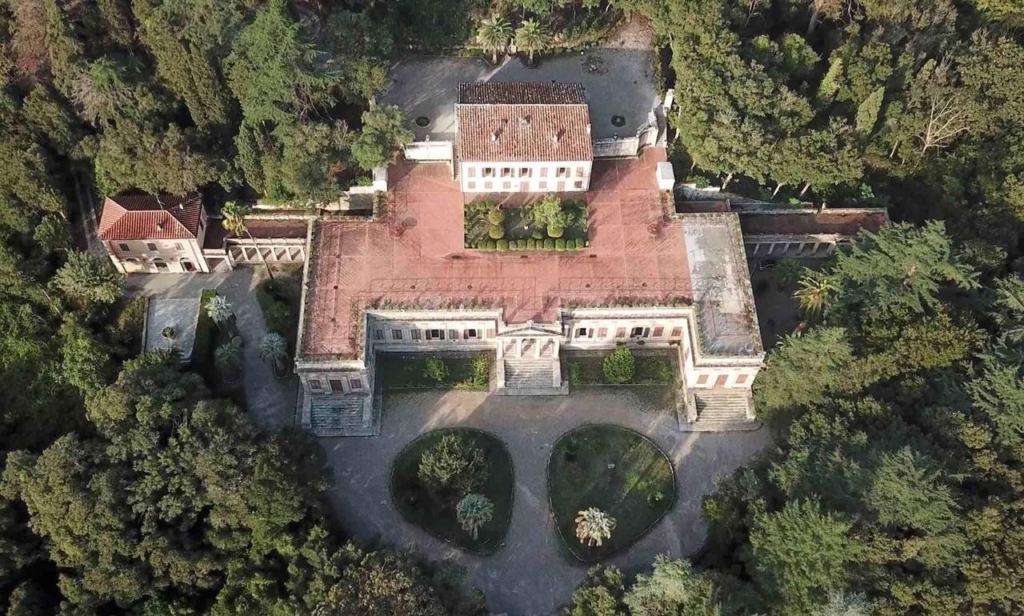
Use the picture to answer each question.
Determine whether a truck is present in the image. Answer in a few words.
No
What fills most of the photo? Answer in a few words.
trees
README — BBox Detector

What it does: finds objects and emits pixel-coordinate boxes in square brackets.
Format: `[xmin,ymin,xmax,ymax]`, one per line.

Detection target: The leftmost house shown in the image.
[98,189,211,274]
